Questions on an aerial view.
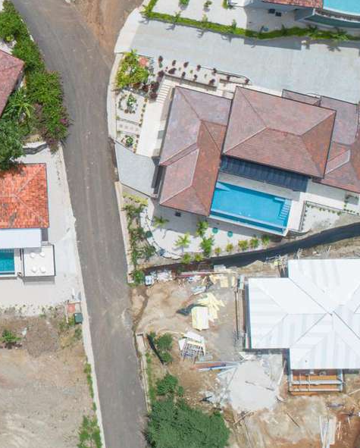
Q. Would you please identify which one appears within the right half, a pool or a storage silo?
pool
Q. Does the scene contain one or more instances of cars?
No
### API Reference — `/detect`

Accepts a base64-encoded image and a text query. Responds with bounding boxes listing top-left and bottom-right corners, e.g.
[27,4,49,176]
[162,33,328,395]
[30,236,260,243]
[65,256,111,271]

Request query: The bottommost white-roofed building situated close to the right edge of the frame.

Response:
[240,258,360,393]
